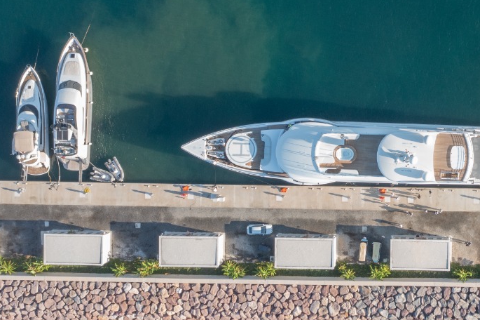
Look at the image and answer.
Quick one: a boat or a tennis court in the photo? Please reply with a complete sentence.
The image shows a boat.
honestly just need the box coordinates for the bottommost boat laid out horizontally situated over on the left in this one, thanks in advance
[85,169,113,182]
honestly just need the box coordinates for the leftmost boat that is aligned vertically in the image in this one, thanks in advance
[11,65,53,174]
